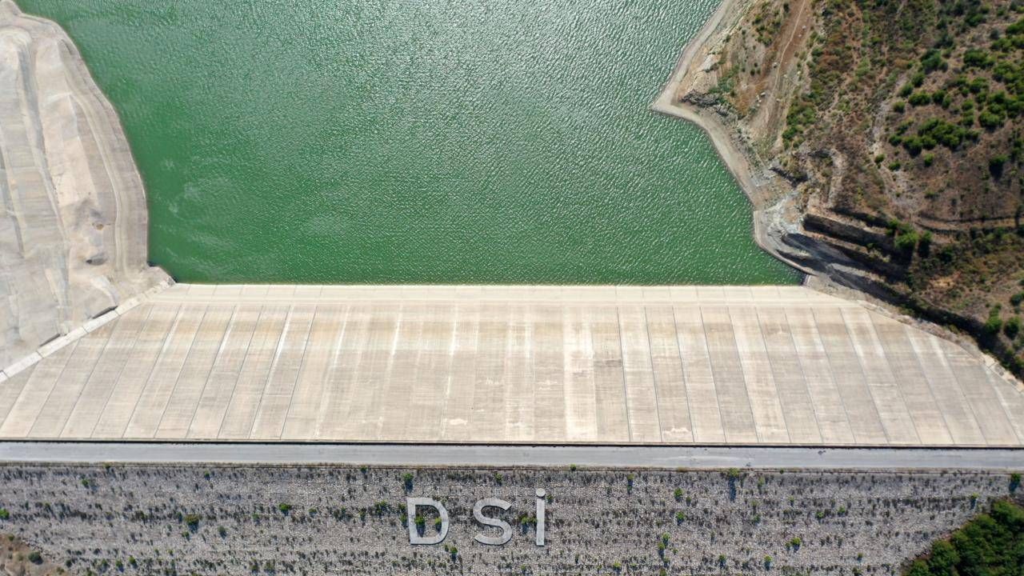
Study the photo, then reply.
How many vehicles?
0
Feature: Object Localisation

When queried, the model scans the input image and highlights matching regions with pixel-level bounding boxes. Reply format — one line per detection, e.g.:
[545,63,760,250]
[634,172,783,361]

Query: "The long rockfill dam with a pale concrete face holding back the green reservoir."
[0,269,1024,576]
